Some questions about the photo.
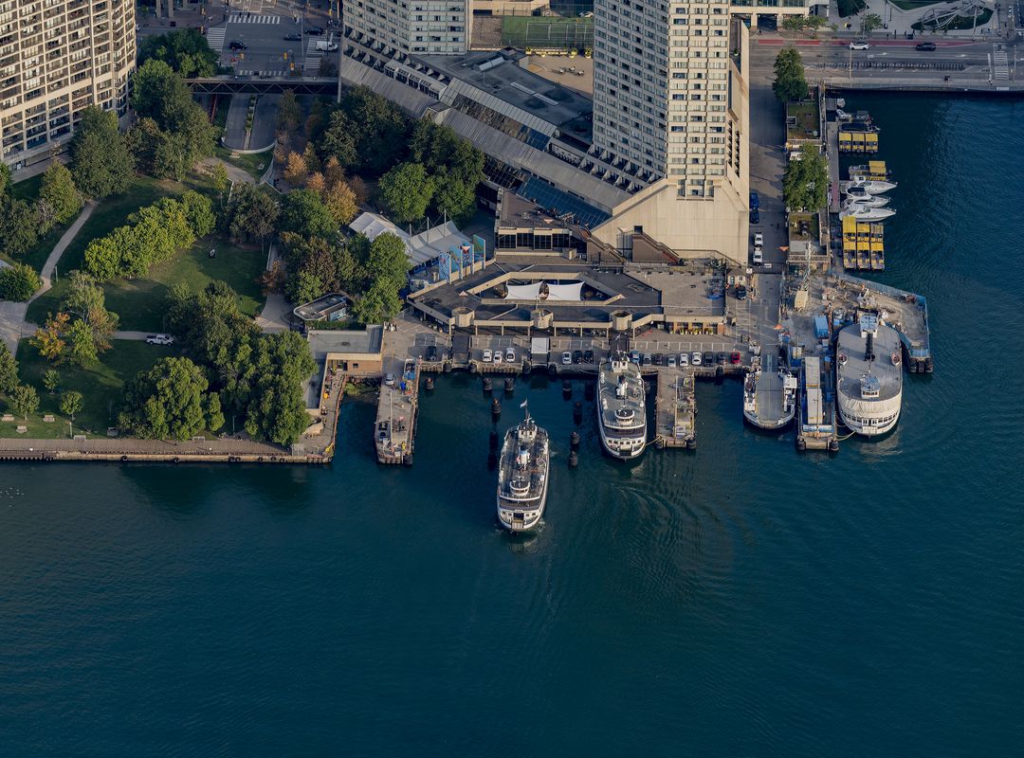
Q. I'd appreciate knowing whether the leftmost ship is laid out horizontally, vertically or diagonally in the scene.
vertically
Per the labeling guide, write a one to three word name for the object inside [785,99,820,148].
building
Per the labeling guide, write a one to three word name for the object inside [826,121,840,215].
pier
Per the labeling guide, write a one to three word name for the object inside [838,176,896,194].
boat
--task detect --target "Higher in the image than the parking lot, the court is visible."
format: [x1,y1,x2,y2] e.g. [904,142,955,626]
[501,0,594,49]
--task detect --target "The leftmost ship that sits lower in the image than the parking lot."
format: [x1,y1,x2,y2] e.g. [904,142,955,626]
[497,392,555,532]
